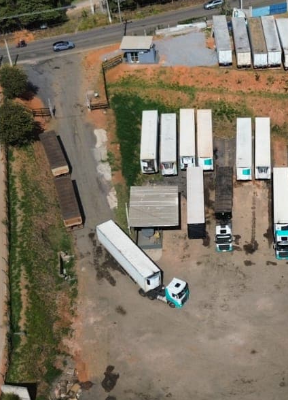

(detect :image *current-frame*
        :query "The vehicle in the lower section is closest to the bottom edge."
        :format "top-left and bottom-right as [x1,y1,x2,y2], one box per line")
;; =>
[139,274,187,304]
